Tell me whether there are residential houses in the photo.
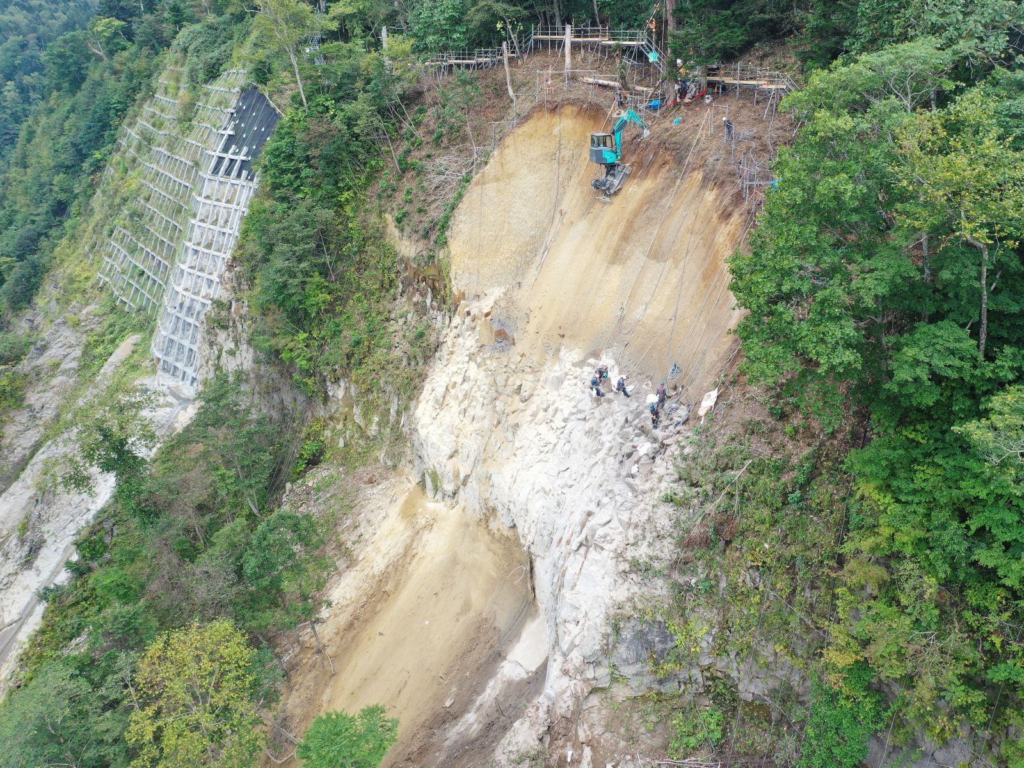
No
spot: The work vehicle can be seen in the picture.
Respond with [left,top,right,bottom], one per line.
[589,106,653,204]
